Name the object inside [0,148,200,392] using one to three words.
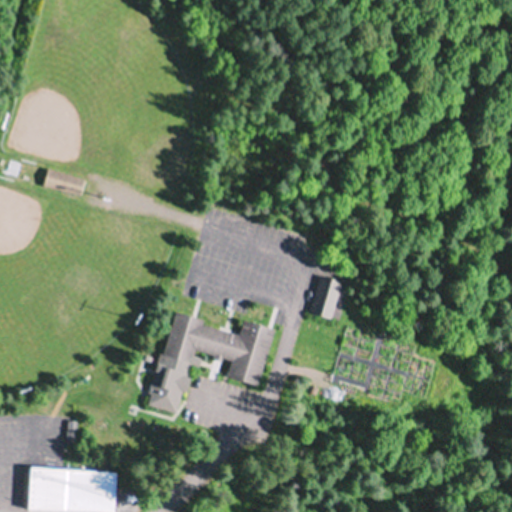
baseball field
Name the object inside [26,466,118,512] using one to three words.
building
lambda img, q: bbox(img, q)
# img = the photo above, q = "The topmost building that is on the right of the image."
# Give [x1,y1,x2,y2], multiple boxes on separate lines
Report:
[314,276,342,320]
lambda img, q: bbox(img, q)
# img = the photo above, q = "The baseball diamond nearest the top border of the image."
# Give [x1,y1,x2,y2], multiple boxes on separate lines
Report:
[4,0,196,212]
